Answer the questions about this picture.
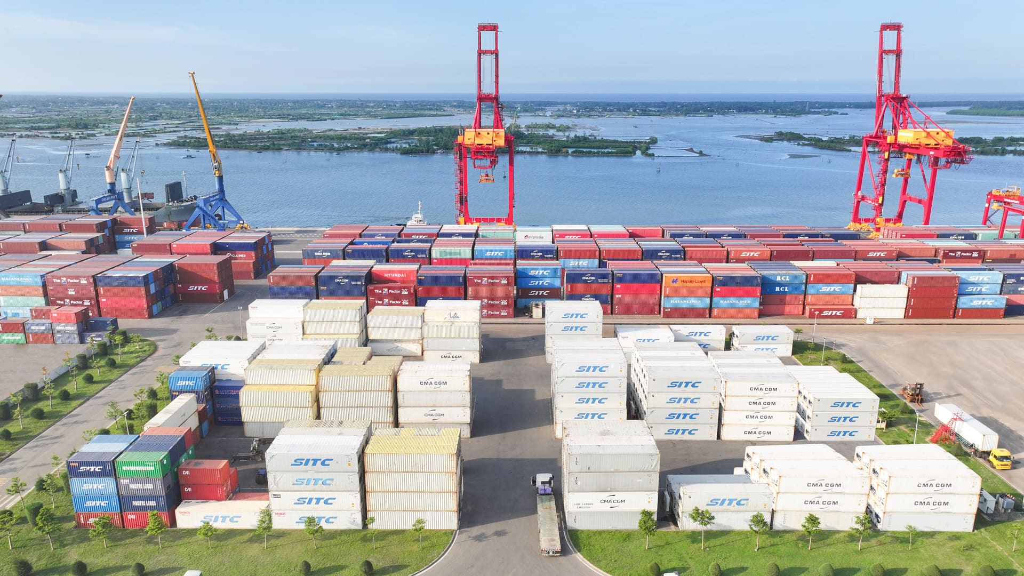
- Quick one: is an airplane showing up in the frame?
No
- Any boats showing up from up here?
Yes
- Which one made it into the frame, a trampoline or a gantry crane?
gantry crane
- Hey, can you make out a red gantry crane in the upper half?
Yes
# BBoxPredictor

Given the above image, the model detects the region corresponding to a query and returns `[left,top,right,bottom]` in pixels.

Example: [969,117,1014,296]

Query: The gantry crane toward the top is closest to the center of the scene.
[453,21,523,239]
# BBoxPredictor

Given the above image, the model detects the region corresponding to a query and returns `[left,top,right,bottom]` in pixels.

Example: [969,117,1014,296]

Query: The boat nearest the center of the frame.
[392,201,436,227]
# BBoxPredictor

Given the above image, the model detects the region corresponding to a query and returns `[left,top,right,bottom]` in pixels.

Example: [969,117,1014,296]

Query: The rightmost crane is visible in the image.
[985,187,1024,239]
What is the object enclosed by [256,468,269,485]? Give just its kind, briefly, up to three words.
vehicle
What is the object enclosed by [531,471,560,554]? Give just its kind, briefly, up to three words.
truck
